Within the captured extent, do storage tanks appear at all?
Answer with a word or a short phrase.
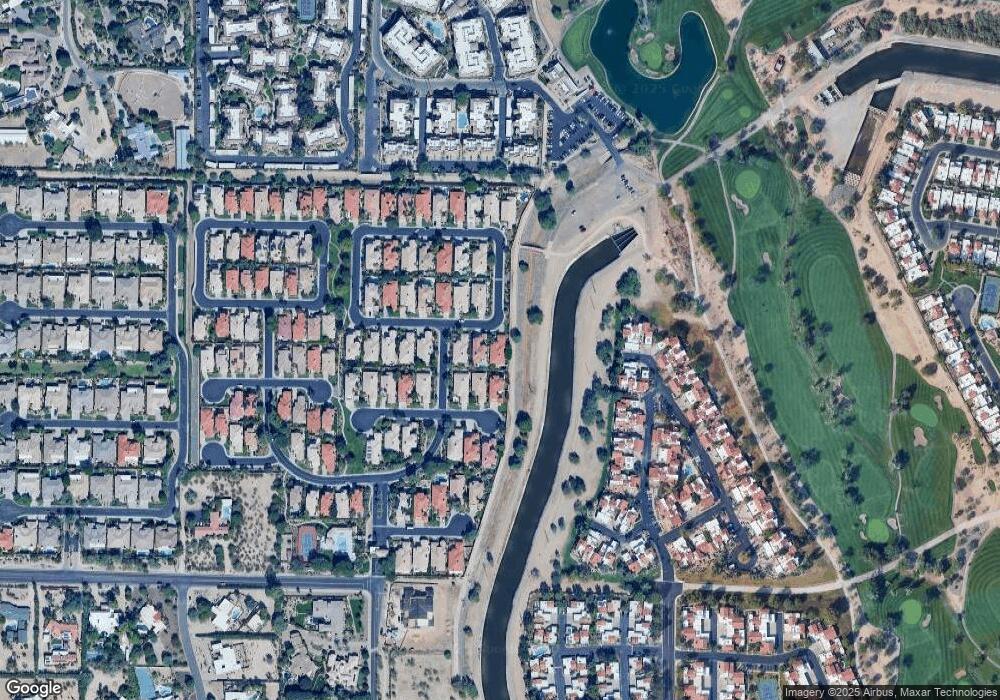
No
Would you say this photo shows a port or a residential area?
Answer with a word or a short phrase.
residential area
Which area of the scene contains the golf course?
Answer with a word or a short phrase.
right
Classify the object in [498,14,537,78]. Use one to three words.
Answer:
building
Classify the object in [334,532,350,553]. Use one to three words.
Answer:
swimming pool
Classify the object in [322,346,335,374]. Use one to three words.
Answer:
house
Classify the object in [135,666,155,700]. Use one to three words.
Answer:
tennis court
